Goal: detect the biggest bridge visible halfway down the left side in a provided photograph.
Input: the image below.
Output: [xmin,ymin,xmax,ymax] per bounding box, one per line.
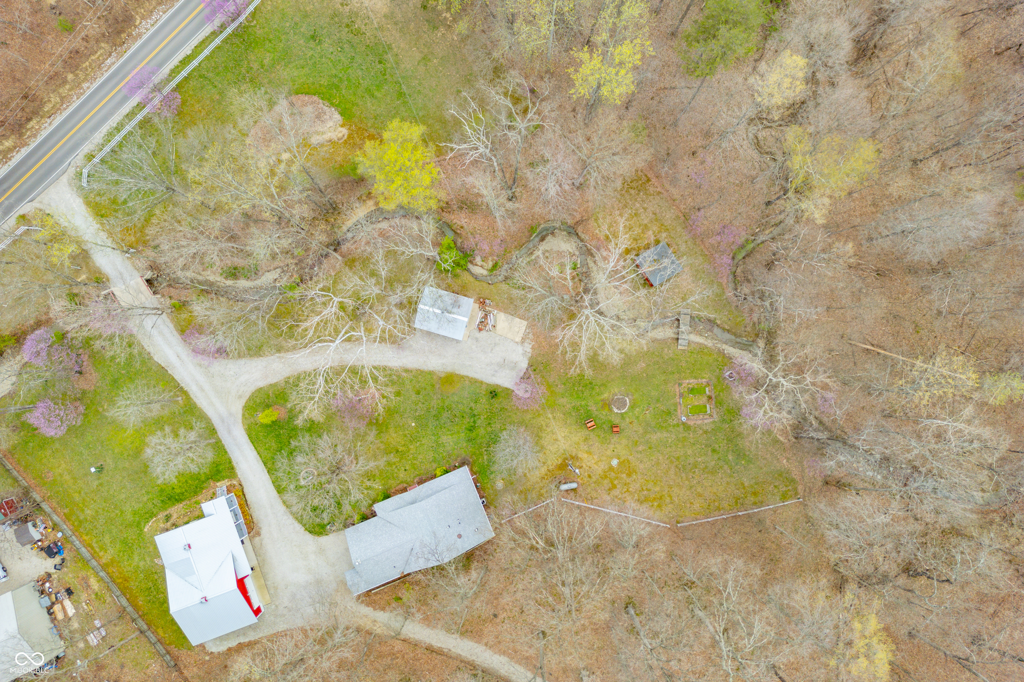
[101,274,158,309]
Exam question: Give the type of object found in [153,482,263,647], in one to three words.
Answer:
house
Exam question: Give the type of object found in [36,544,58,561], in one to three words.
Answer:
vehicle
